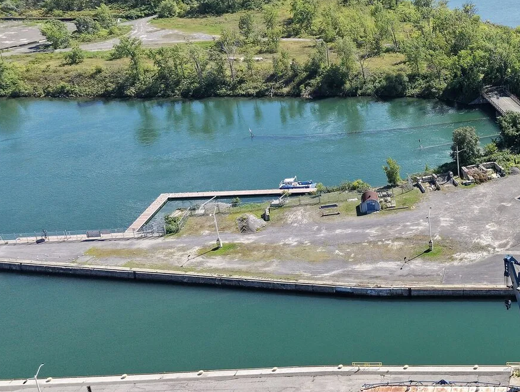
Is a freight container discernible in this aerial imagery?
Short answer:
No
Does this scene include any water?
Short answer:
Yes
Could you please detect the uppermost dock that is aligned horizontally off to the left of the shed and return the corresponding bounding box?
[123,188,317,234]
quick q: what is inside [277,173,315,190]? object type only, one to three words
boat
